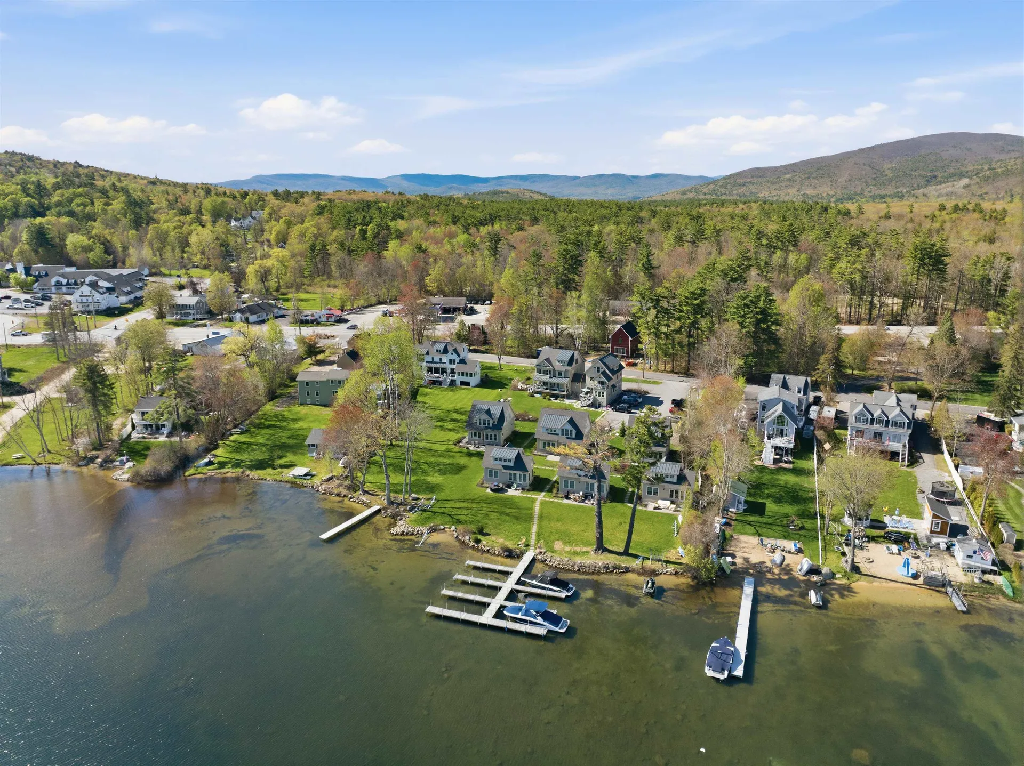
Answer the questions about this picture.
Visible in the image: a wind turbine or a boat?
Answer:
boat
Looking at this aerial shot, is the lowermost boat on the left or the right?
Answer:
right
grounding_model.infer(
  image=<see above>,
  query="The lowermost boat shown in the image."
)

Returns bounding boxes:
[705,634,734,687]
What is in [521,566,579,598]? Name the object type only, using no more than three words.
boat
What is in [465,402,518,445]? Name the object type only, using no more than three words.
house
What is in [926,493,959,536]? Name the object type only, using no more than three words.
shed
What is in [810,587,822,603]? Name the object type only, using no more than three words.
boat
